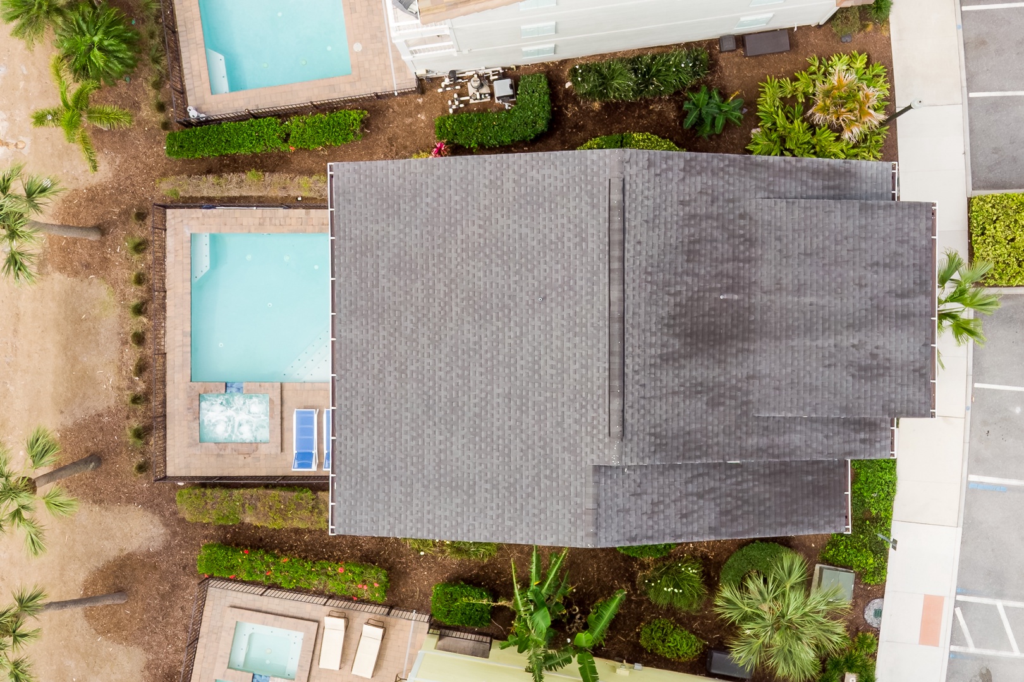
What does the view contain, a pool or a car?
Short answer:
pool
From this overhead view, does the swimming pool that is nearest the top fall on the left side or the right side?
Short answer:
left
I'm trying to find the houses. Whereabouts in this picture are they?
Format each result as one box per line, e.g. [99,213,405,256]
[413,634,709,682]
[329,149,938,548]
[383,0,877,77]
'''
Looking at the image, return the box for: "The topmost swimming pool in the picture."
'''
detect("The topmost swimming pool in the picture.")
[188,0,361,104]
